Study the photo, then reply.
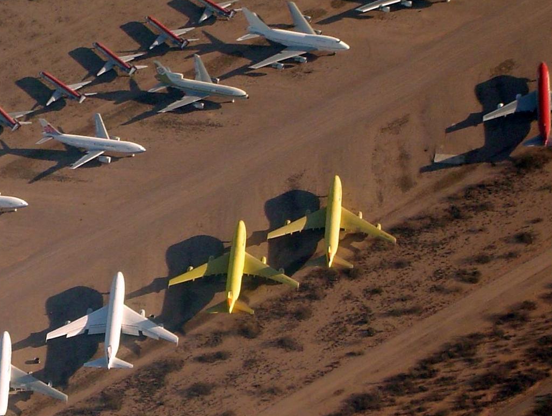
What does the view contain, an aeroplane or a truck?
aeroplane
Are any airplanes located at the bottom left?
Yes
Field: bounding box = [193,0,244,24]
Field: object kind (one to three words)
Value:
airplane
